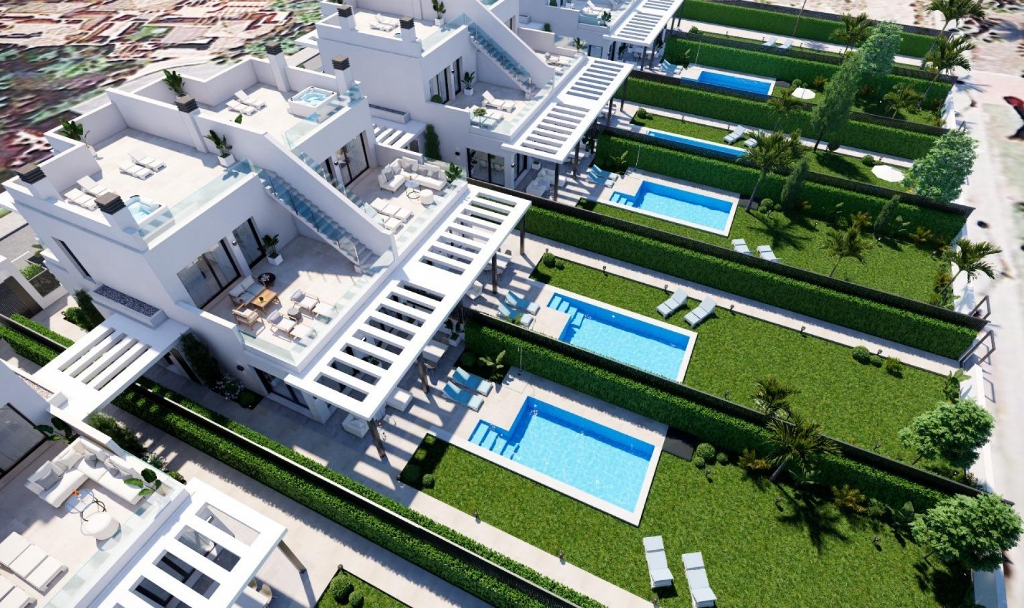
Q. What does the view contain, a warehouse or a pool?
pool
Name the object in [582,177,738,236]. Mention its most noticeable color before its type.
blue swimming pool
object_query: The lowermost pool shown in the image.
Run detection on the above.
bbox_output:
[429,390,664,526]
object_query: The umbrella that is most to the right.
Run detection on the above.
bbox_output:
[868,166,907,187]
